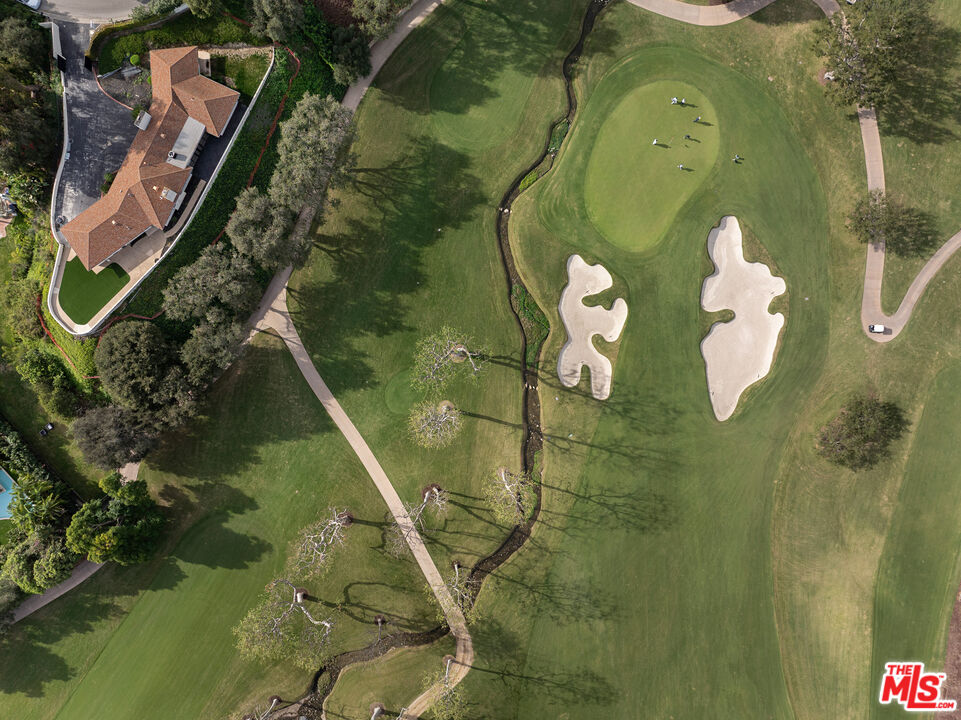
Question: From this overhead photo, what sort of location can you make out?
golf course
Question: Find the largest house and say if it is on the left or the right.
left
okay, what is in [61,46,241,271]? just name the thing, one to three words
house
